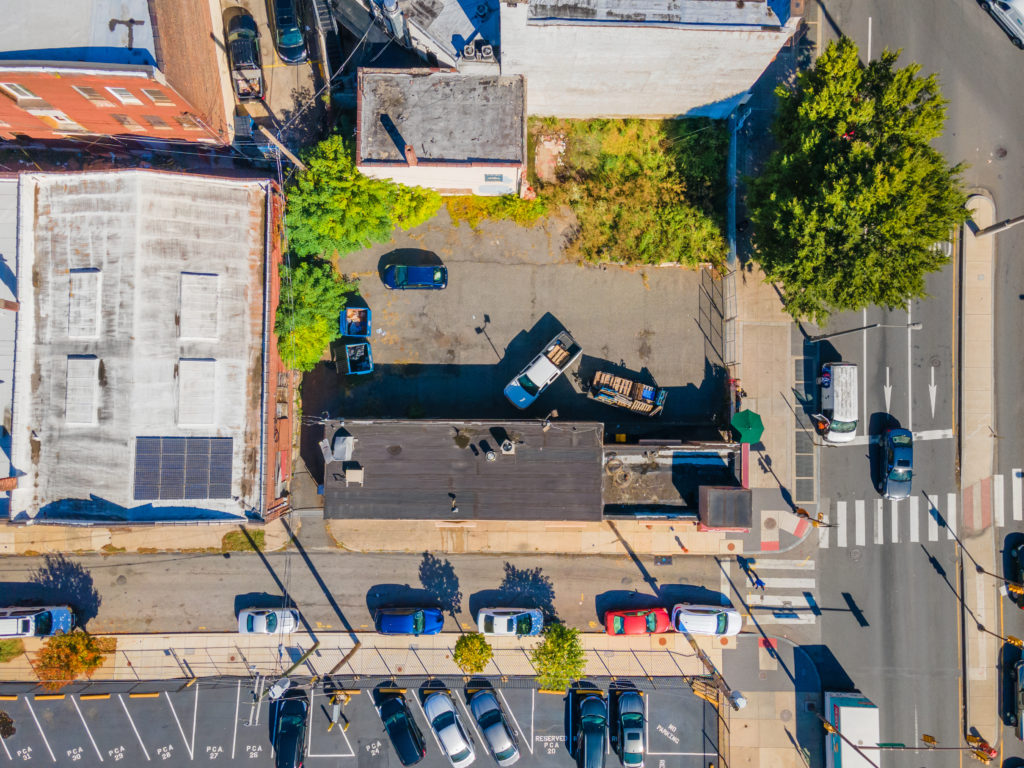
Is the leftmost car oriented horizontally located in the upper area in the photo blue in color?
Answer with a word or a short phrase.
Yes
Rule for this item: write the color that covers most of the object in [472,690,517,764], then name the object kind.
blue car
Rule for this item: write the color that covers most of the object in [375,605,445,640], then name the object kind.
blue car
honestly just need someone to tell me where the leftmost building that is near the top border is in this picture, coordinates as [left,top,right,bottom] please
[0,0,229,143]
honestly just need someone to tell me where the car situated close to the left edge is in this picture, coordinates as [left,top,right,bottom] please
[0,605,80,637]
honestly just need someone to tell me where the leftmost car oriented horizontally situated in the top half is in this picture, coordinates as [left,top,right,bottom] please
[384,261,448,292]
